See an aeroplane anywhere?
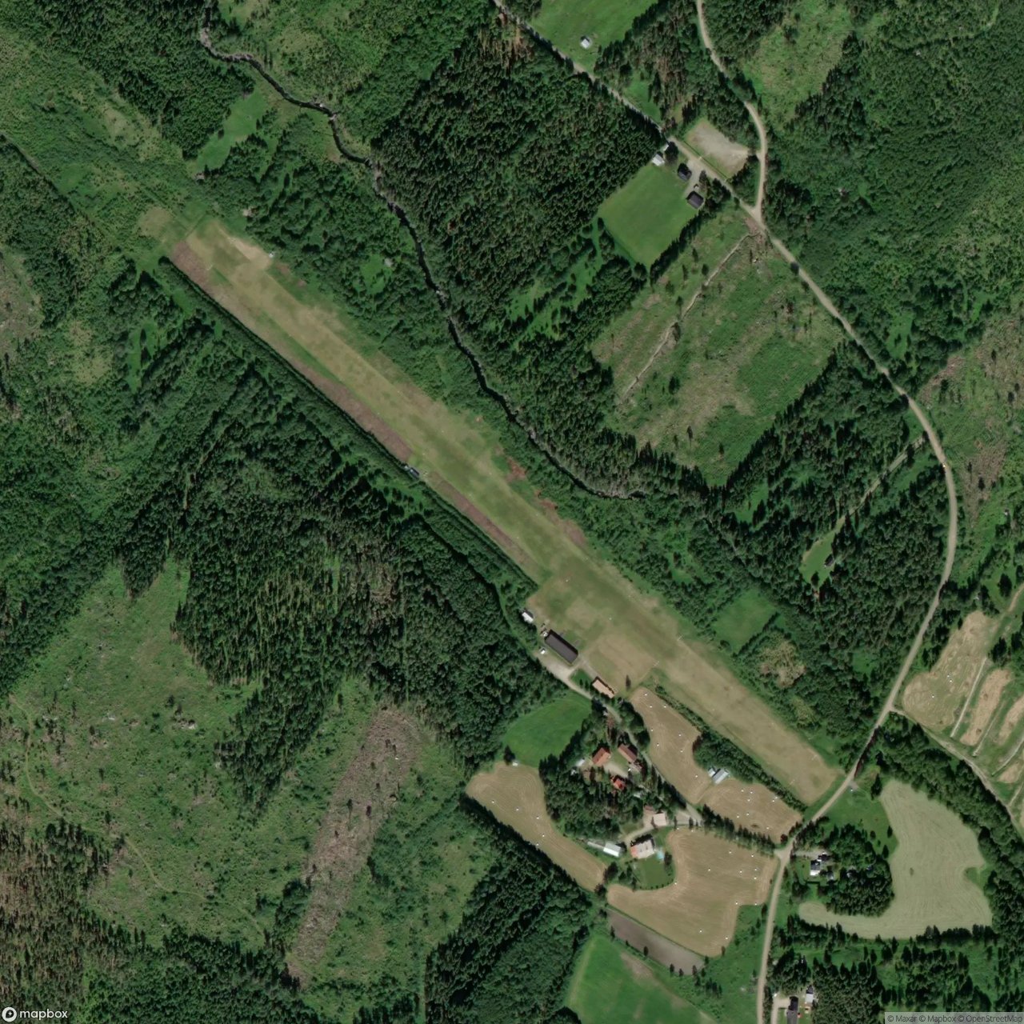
No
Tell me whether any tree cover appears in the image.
Yes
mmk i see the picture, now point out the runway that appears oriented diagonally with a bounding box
[192,227,824,788]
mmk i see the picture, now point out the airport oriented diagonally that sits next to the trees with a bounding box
[170,217,840,805]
